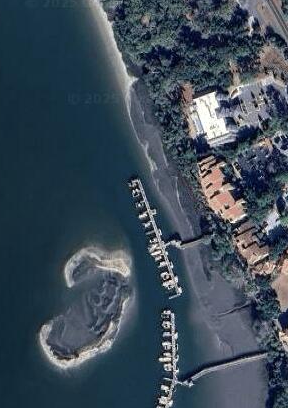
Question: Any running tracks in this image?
No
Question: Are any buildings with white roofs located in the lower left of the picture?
No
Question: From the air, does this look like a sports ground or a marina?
marina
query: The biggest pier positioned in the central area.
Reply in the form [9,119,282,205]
[130,180,182,296]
